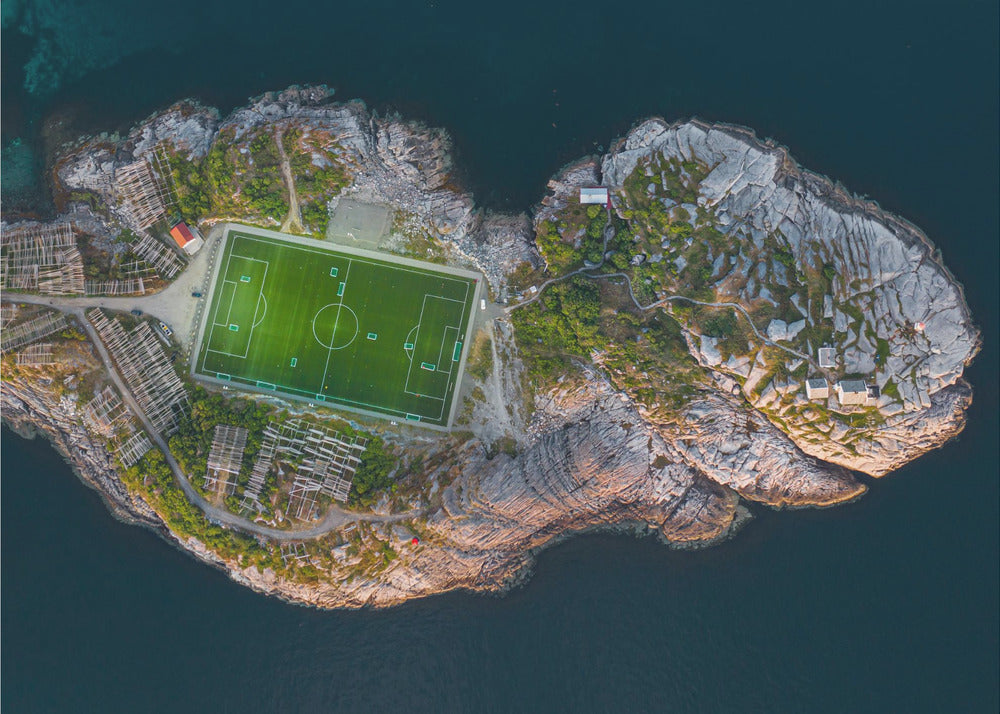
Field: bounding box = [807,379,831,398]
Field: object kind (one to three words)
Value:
house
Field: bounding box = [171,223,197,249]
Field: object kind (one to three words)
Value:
house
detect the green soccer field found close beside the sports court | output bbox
[190,224,482,432]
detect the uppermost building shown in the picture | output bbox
[580,189,607,204]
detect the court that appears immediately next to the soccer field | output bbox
[332,198,388,243]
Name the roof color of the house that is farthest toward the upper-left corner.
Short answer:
red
